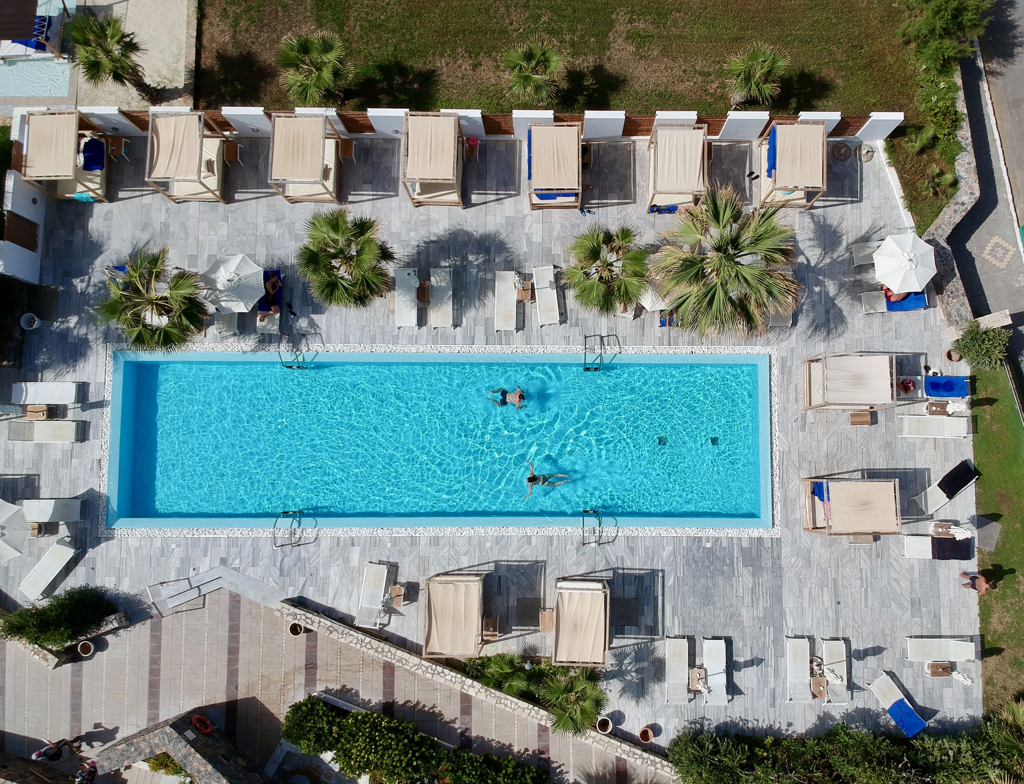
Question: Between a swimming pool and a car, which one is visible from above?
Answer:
swimming pool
